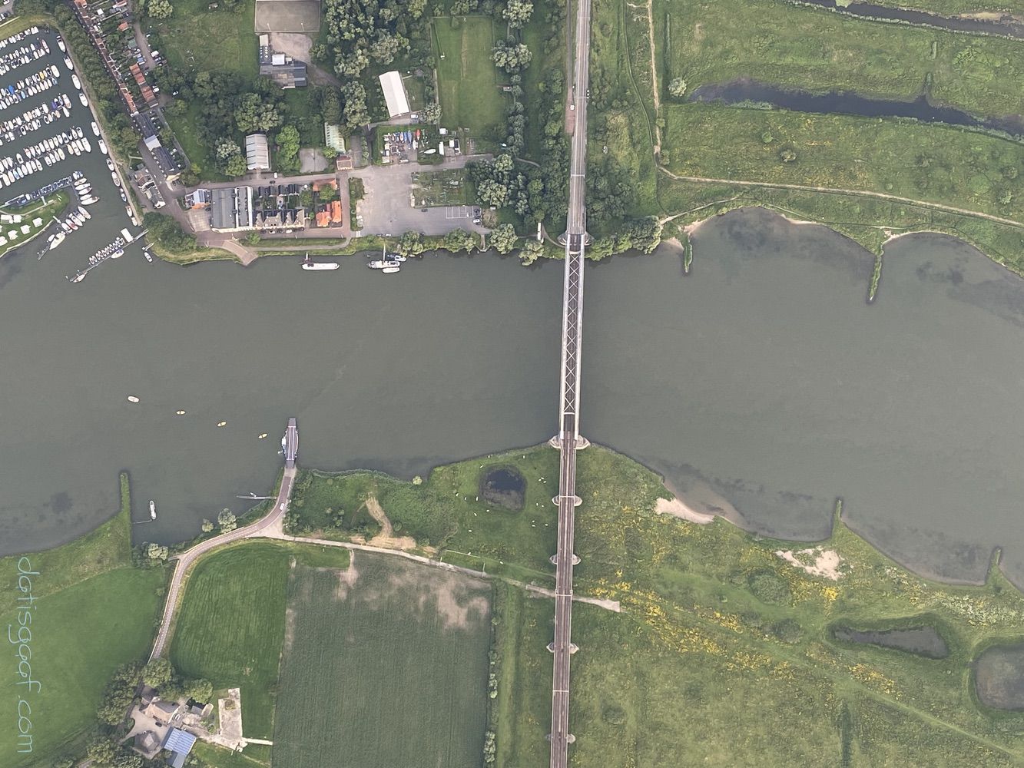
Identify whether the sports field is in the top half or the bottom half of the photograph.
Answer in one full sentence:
The sports field is in the top half of the image.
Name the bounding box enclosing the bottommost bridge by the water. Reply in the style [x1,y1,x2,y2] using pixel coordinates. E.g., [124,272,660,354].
[544,232,593,768]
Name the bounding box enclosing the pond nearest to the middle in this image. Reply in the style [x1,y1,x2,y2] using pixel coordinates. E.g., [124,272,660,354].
[481,466,525,510]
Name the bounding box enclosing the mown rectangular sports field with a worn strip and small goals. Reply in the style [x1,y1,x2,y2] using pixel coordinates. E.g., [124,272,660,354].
[435,17,505,132]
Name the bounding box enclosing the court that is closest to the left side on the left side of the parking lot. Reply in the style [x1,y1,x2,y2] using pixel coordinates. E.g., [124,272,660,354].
[300,148,328,173]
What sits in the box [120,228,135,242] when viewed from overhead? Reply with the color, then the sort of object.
white boat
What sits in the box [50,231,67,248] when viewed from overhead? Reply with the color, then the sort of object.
white boat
